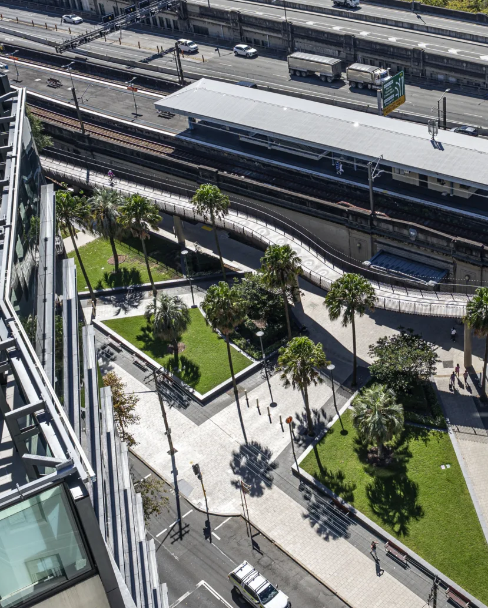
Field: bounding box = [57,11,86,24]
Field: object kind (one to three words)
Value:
vehicle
